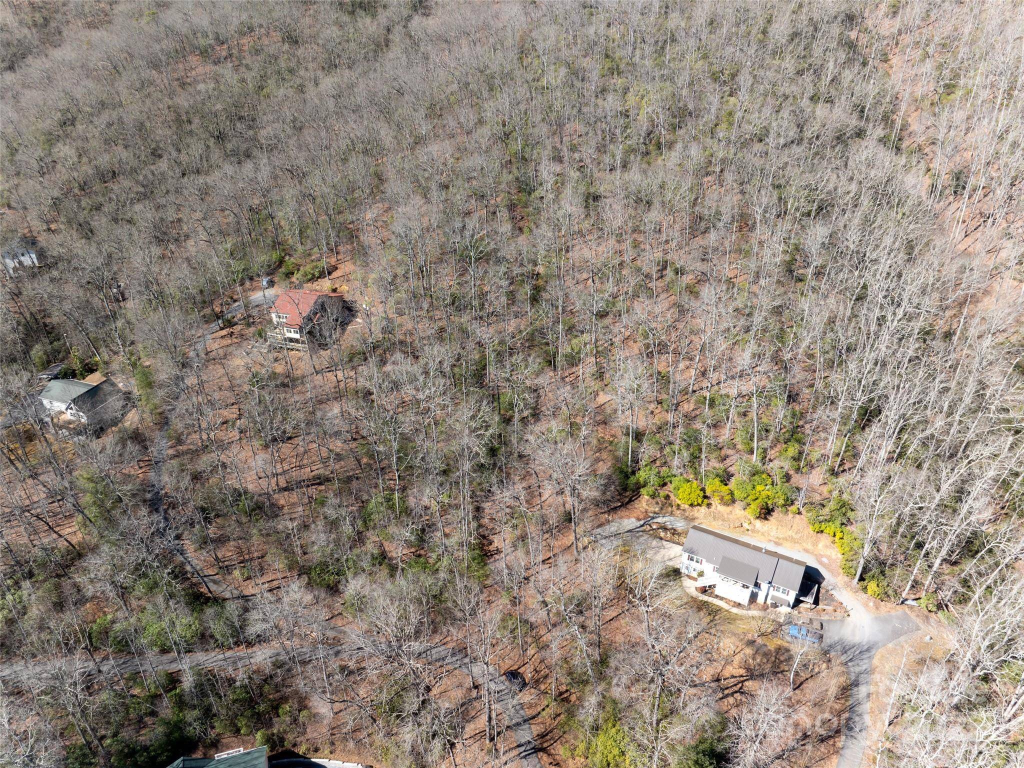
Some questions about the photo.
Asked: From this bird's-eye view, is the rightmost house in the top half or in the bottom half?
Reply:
bottom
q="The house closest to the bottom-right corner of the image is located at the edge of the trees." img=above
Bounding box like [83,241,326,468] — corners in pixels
[681,523,817,615]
